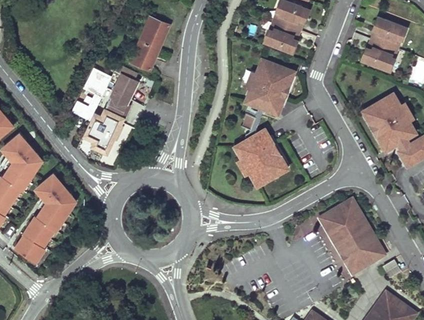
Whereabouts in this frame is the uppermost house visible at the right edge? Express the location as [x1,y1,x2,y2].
[368,14,410,54]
